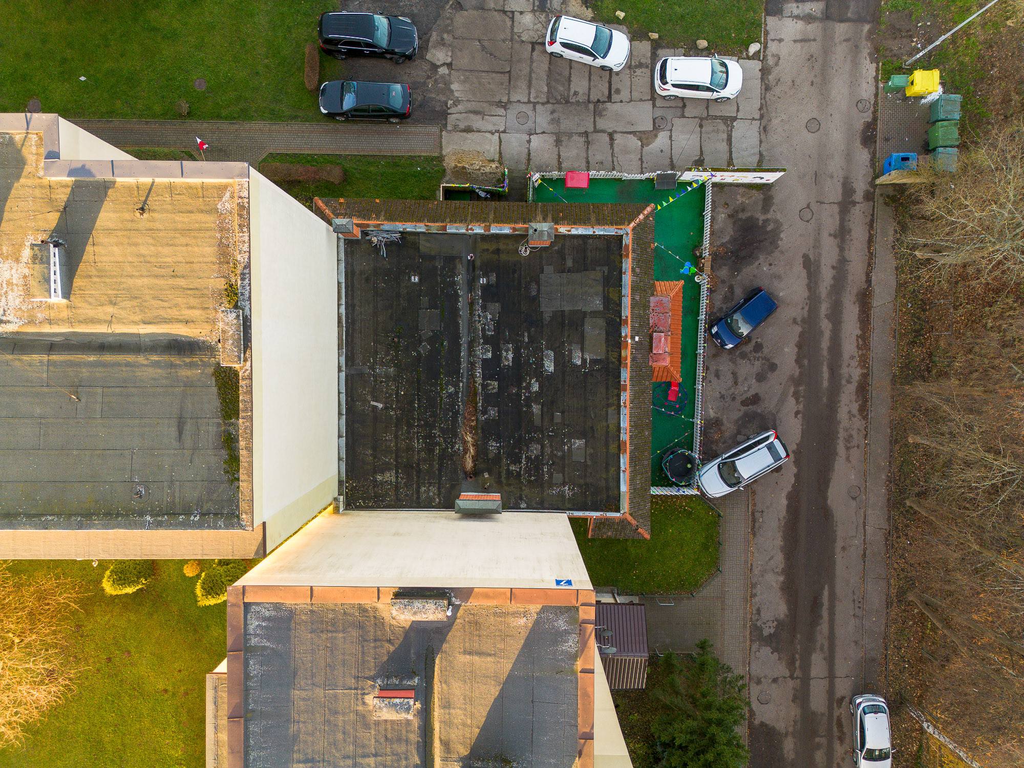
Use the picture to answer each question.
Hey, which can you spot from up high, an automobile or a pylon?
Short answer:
automobile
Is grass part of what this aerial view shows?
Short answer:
Yes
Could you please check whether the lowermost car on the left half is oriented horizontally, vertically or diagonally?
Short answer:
horizontally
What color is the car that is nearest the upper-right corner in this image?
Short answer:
white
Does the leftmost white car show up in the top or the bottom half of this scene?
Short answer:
top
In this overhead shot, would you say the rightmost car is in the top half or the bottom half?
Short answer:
bottom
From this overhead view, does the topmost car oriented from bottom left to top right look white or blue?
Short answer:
blue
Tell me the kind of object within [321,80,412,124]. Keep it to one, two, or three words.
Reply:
car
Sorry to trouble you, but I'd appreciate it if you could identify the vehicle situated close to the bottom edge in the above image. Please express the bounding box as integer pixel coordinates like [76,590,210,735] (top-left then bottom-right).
[845,692,890,768]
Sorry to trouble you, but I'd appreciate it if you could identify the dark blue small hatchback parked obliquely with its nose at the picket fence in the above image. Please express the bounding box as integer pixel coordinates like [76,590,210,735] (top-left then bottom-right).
[708,287,784,349]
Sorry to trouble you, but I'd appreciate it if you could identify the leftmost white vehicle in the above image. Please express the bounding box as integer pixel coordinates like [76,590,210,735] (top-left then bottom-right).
[545,17,629,74]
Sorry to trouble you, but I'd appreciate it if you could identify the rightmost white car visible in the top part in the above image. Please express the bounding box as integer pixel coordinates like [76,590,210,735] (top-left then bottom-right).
[654,57,741,103]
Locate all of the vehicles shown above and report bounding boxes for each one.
[654,57,741,103]
[708,287,784,349]
[845,692,890,768]
[545,17,629,74]
[321,80,412,124]
[319,13,416,66]
[698,430,790,498]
